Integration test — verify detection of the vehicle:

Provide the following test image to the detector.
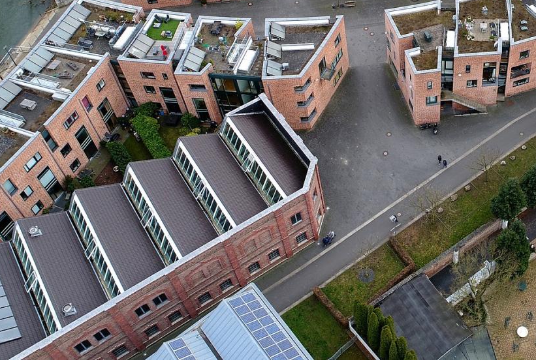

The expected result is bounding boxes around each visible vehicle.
[433,120,439,134]
[418,120,432,127]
